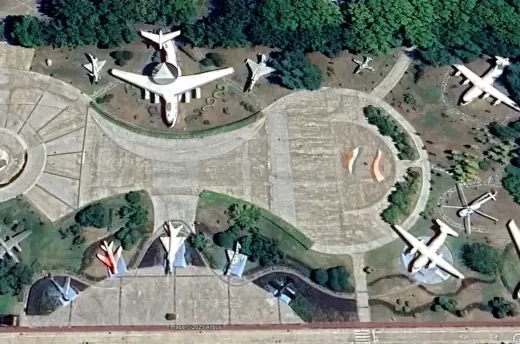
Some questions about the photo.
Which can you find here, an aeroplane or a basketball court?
aeroplane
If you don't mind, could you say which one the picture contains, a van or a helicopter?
helicopter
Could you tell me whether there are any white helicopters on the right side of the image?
Yes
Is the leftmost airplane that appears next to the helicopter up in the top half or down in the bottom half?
bottom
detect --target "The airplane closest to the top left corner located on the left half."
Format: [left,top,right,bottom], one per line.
[81,53,105,84]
